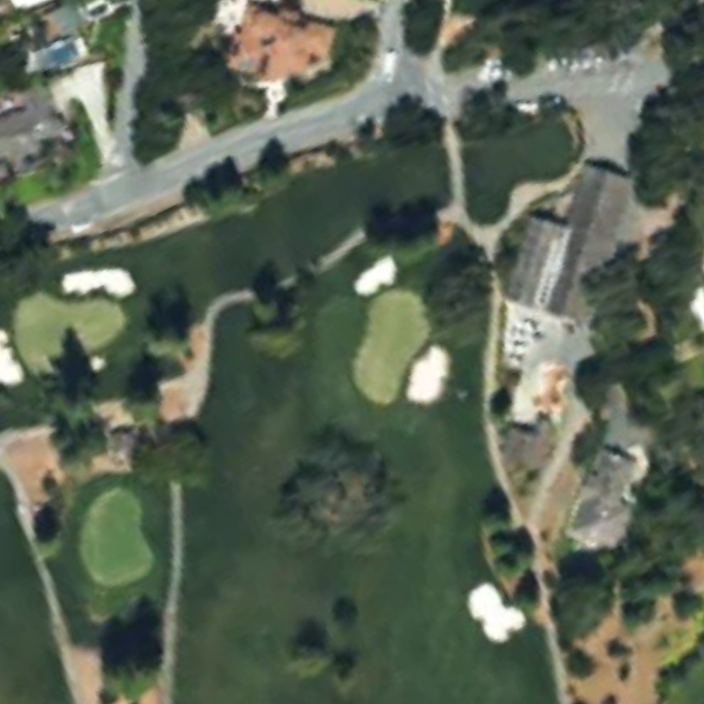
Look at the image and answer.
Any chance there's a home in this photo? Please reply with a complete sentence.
Yes, the photo shows a home.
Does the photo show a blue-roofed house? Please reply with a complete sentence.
No, there's no blue-roofed house here.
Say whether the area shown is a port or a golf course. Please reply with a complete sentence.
The picture captures a golf course.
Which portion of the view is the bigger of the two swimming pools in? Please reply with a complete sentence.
The bigger of the two swimming pools sits in the top left section of the image.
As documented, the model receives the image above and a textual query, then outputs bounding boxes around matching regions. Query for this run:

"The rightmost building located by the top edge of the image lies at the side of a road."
[224,0,338,86]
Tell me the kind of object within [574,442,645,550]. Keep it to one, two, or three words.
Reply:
house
